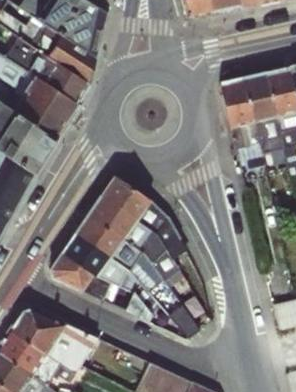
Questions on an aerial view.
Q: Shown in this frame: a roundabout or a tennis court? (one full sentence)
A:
It is a roundabout that can be seen here.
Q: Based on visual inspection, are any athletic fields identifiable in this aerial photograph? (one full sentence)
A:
No, the scene contains no athletic field.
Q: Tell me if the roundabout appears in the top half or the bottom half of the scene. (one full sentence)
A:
Seen from above, the roundabout lies in the top half of the view.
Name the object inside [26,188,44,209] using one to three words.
car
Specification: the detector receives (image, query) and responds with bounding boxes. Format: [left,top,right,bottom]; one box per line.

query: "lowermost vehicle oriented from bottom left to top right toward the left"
[25,238,42,260]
